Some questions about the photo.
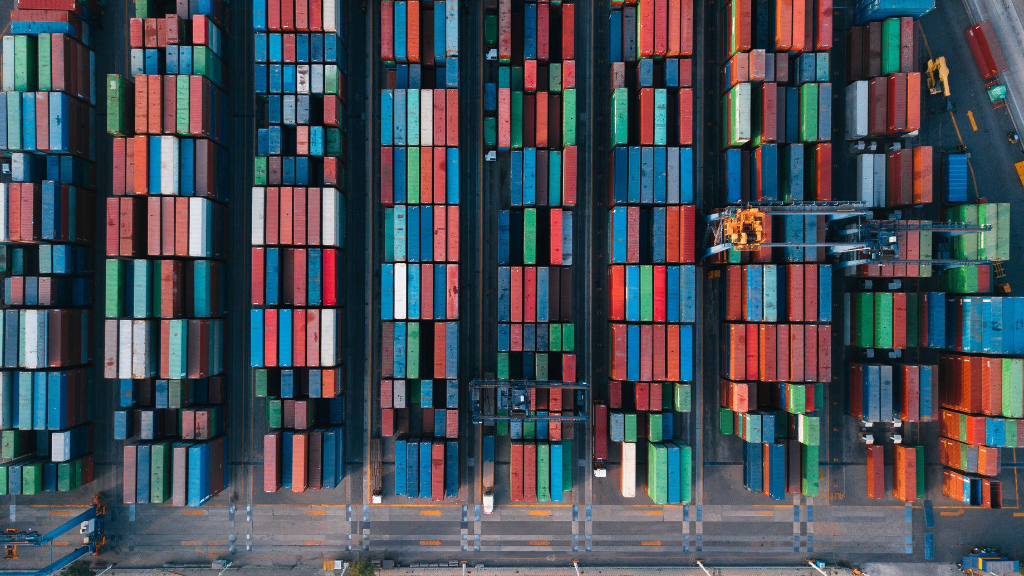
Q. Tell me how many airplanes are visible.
none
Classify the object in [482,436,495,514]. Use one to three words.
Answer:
vehicle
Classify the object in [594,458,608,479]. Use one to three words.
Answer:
vehicle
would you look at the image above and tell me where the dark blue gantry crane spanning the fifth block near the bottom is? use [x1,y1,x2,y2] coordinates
[467,359,592,424]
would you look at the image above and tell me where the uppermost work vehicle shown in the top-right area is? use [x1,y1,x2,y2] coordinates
[925,54,960,110]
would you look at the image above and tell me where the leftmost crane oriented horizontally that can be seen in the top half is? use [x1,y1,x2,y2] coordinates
[702,197,866,263]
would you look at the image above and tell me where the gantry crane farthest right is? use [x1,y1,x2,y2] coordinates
[834,220,992,278]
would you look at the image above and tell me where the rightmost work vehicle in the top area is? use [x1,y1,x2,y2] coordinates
[1010,127,1022,143]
